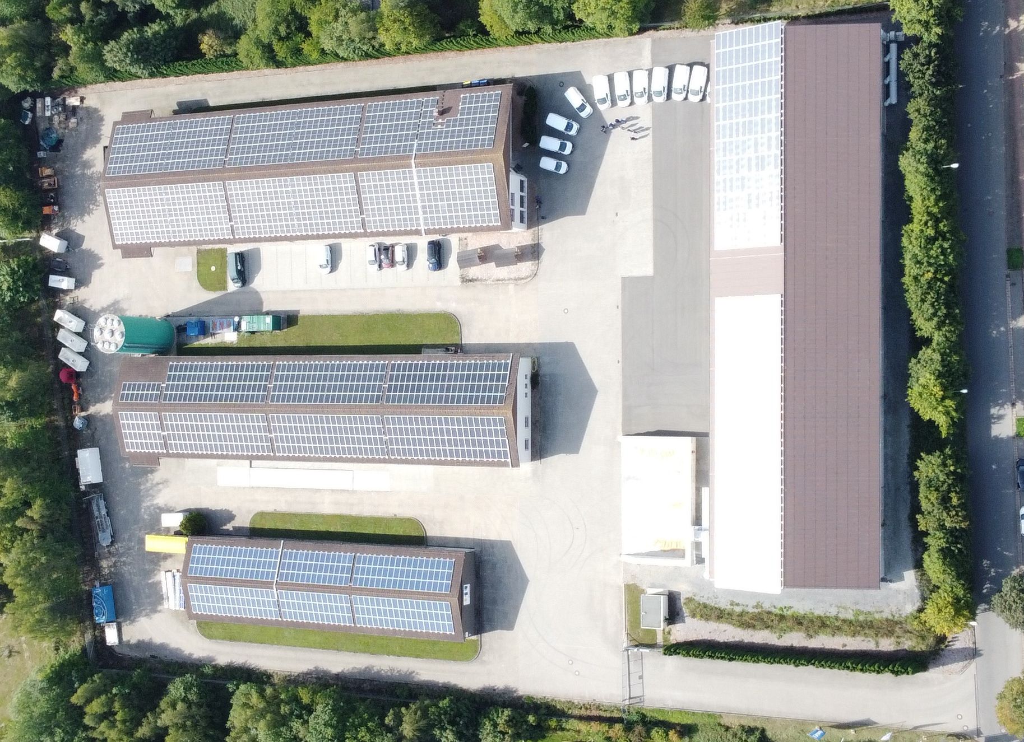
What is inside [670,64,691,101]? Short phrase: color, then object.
white vehicle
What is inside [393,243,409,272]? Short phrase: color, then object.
white car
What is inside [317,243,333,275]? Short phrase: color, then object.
white vehicle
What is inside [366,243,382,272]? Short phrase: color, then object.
white car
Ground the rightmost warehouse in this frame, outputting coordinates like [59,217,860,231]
[709,20,892,595]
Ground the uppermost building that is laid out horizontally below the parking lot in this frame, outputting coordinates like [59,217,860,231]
[111,353,531,468]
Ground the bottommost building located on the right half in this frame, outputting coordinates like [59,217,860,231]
[641,583,672,630]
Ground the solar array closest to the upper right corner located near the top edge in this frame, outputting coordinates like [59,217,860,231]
[714,21,780,250]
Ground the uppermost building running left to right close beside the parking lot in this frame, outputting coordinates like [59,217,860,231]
[100,83,527,257]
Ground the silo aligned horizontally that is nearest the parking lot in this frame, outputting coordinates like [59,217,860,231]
[84,313,178,355]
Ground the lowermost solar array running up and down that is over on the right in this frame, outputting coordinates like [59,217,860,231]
[715,294,780,594]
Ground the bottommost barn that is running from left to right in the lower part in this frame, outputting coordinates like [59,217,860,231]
[181,535,475,643]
